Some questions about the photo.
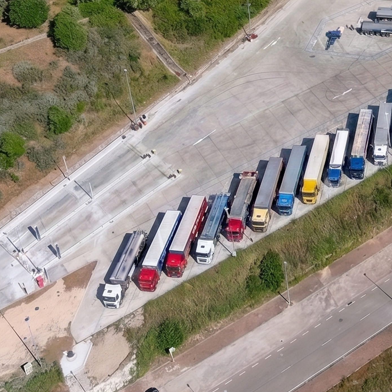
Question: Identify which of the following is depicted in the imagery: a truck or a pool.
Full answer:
I can see a truck in this picture.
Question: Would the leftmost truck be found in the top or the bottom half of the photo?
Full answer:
The leftmost truck sits in the bottom half of the picture.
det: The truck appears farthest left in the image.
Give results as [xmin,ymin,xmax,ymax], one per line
[103,229,151,307]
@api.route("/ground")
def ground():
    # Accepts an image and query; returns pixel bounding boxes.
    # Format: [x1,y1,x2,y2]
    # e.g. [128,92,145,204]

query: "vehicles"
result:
[250,155,284,231]
[325,129,350,188]
[164,196,209,277]
[192,191,231,265]
[376,8,392,22]
[276,144,306,219]
[146,386,158,392]
[347,109,373,180]
[371,101,392,169]
[224,169,257,243]
[137,210,183,293]
[299,133,331,205]
[325,22,342,45]
[103,229,151,307]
